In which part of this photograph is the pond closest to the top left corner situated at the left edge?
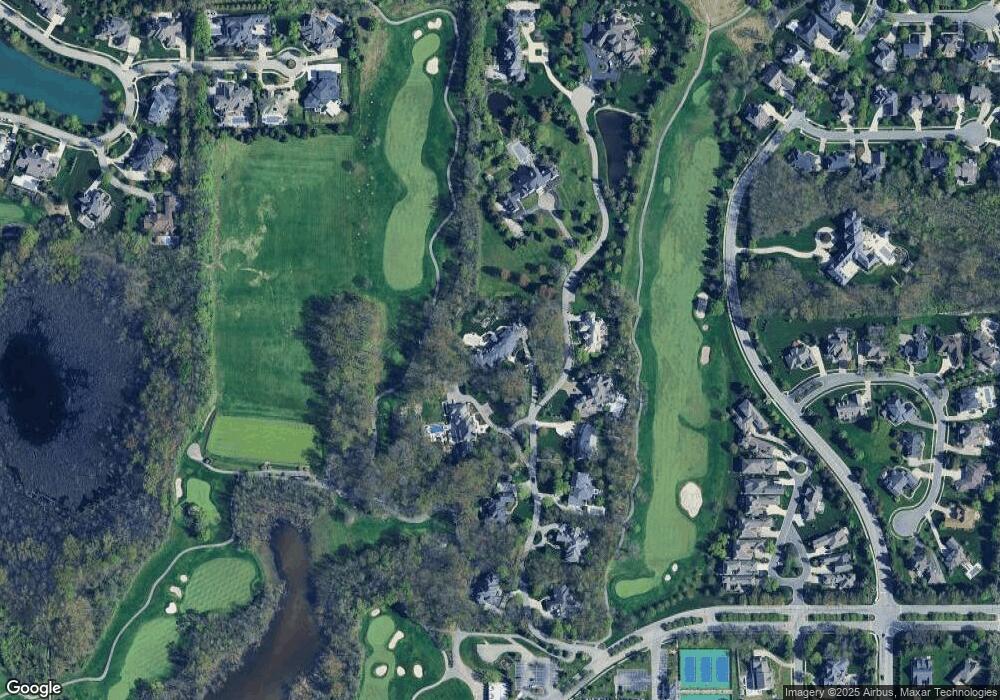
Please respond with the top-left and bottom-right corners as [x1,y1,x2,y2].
[0,42,104,123]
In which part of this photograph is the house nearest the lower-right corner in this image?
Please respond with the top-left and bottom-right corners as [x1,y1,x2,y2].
[950,660,982,690]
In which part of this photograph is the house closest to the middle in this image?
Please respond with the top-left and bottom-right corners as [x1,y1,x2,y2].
[473,317,530,374]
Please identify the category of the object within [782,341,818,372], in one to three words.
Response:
house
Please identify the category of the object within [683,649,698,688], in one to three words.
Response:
tennis court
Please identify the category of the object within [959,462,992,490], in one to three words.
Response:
house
